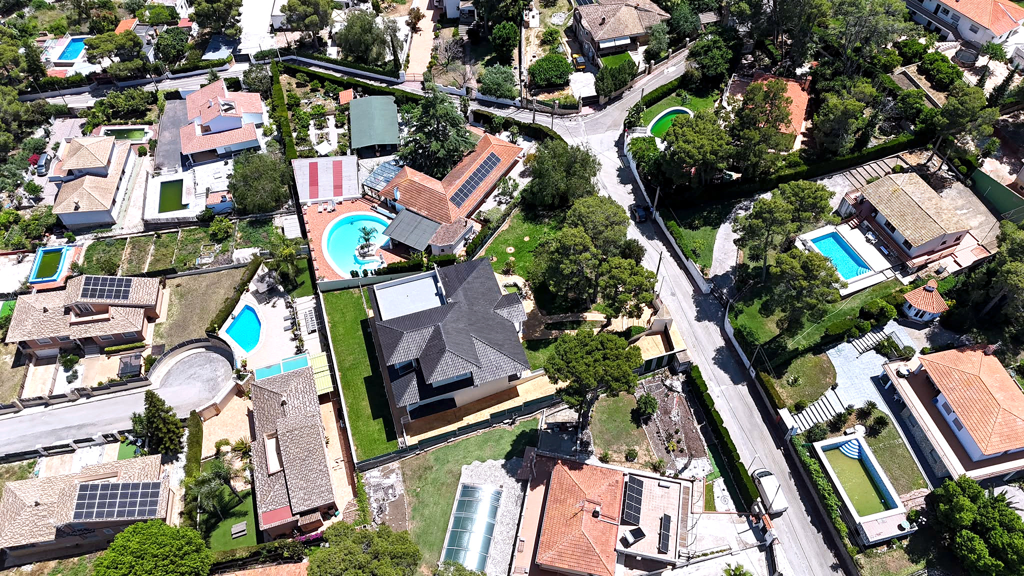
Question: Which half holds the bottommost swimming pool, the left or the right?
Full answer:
It is on the right.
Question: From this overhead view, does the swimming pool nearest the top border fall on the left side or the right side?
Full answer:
The swimming pool nearest the top border is on the left side of the image.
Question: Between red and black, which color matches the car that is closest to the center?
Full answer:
The car that is closest to the center looks black in the image.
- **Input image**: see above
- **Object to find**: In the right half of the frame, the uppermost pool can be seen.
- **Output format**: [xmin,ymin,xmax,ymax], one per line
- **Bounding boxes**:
[647,107,696,140]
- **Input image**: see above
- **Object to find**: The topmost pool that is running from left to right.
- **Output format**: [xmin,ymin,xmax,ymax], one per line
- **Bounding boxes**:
[99,126,151,142]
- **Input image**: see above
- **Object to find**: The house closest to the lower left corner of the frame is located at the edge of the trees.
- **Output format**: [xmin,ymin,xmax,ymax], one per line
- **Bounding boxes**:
[0,455,185,554]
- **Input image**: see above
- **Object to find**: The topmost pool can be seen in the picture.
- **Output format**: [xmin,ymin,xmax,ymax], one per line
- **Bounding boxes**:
[51,36,94,63]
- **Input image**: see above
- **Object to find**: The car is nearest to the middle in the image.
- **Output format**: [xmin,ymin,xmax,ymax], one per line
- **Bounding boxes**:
[628,202,650,226]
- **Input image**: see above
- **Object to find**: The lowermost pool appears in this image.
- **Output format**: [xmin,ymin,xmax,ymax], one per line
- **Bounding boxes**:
[806,430,910,532]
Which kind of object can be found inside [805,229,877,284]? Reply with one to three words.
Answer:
swimming pool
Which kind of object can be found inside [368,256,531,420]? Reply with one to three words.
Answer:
house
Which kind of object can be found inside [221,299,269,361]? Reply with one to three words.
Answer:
swimming pool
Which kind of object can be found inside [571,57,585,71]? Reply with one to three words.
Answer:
car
